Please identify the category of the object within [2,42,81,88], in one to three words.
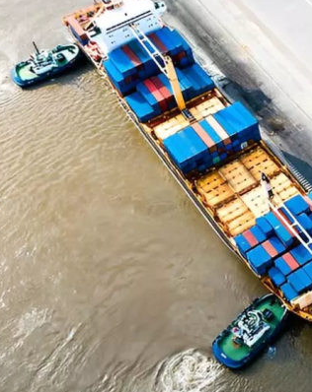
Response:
boat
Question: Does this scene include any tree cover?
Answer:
No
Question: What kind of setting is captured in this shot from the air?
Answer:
port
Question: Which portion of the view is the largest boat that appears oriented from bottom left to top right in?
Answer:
bottom right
